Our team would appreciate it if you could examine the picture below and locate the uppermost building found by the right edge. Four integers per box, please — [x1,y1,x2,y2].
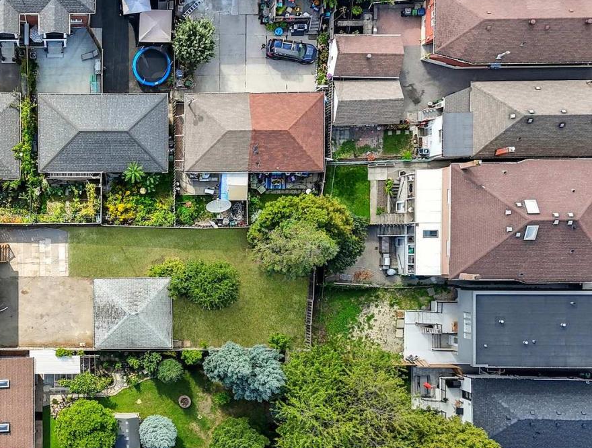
[420,0,592,72]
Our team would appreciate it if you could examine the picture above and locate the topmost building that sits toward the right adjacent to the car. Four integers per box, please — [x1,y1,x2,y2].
[324,34,404,83]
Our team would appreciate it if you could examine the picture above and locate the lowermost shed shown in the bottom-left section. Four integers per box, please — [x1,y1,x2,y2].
[115,410,140,448]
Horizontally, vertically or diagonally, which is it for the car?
horizontally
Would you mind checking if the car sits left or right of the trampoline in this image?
on its right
